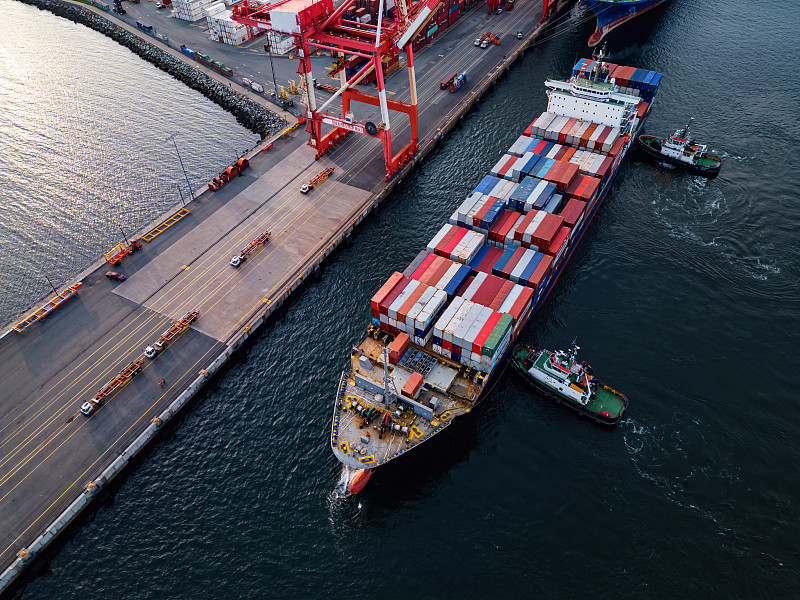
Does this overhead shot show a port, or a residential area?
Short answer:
port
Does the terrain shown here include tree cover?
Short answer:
No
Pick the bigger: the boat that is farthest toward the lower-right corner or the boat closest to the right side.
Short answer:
the boat that is farthest toward the lower-right corner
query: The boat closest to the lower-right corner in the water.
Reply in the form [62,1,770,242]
[509,339,635,426]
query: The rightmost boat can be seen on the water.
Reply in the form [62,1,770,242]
[638,117,722,174]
